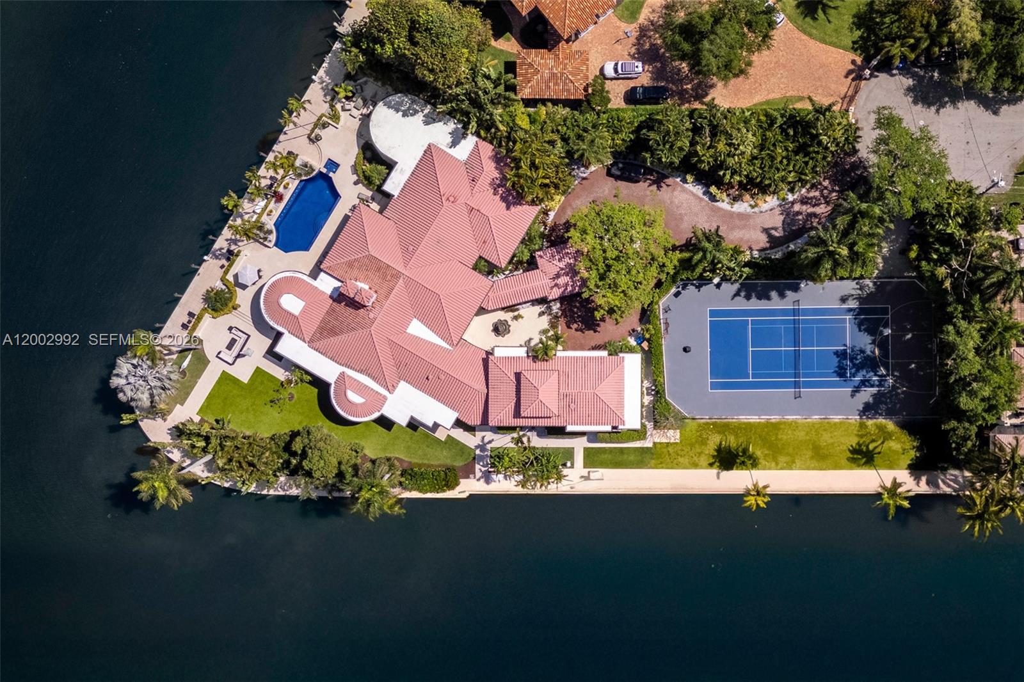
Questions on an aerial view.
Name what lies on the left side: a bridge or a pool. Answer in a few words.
pool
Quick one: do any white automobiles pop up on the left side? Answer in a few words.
No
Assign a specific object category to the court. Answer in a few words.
tennis court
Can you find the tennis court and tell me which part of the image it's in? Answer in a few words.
right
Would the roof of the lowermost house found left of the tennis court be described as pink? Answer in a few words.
Yes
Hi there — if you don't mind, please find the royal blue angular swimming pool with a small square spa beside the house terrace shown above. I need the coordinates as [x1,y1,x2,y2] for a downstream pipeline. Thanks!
[271,155,344,255]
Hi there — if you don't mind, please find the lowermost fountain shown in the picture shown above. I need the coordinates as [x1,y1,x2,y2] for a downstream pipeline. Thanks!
[491,318,511,337]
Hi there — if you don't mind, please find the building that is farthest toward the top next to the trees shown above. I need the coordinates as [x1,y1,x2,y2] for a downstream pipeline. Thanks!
[512,0,617,105]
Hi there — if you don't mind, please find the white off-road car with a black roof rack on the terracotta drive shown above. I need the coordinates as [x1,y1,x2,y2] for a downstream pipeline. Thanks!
[602,60,641,80]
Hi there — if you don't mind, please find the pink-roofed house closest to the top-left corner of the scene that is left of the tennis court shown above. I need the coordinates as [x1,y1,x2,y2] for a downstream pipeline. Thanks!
[260,94,641,432]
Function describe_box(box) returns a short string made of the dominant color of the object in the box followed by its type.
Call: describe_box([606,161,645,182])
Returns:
black car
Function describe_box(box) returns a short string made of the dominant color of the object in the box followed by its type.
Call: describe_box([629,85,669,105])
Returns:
black car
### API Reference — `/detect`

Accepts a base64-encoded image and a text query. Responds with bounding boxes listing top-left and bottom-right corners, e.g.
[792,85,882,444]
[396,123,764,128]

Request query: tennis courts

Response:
[659,279,939,418]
